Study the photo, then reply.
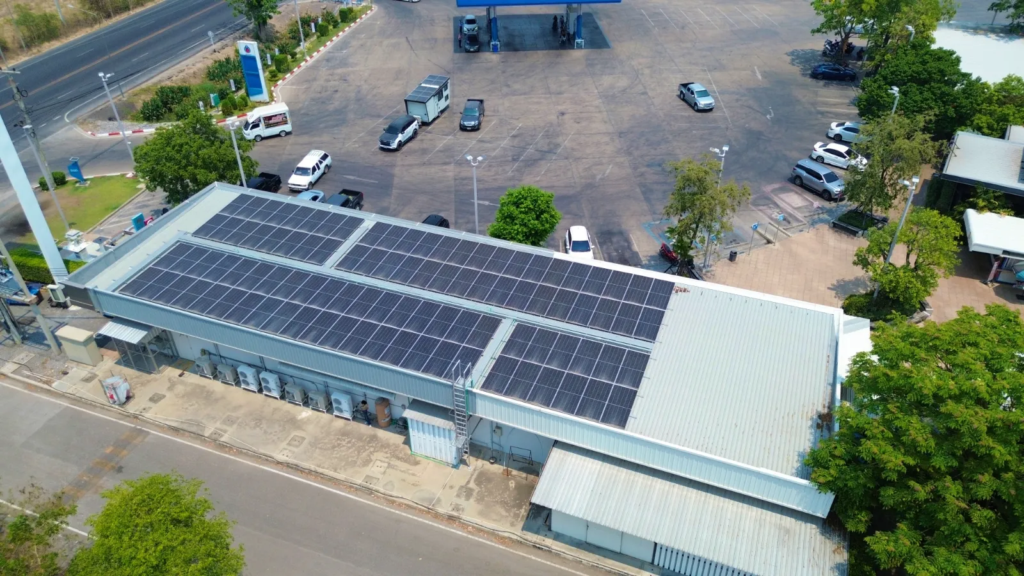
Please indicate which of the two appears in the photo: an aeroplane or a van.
van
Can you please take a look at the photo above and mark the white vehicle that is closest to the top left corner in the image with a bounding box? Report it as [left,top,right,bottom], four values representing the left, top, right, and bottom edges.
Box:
[246,107,291,141]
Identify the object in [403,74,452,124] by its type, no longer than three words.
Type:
trailer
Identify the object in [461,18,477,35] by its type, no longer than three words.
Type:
car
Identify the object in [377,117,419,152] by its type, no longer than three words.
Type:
car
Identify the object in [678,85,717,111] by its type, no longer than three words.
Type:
truck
